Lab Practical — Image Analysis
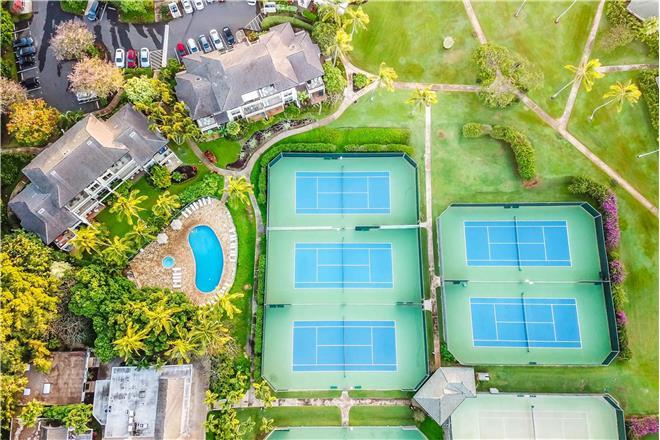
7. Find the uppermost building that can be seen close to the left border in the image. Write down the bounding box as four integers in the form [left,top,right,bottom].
[9,102,177,252]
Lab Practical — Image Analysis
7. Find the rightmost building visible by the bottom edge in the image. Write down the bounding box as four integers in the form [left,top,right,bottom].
[414,367,476,426]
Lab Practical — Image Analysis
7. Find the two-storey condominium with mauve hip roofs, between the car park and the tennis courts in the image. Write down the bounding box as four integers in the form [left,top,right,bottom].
[173,21,326,137]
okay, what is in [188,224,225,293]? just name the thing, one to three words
swimming pool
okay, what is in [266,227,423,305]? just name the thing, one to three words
tennis court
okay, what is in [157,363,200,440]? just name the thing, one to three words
building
